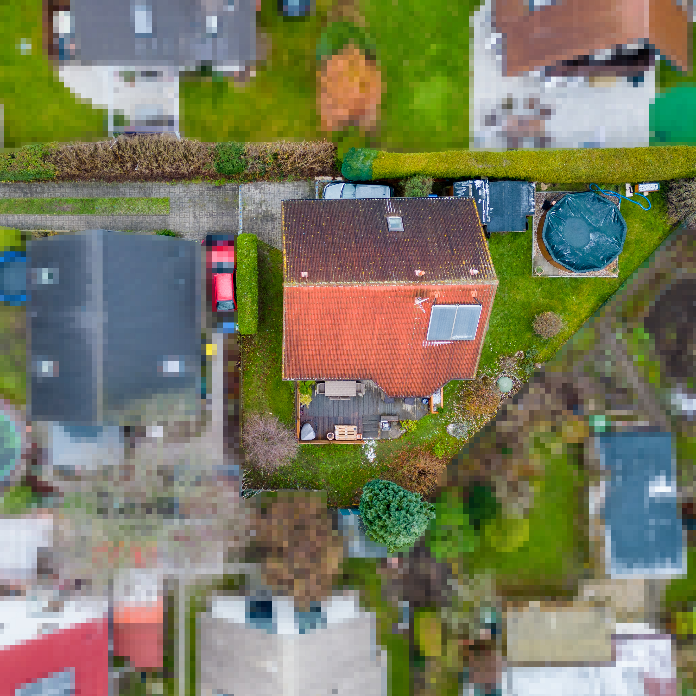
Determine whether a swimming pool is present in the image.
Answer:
Yes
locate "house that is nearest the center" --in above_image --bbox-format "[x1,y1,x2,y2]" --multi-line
[280,195,499,400]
